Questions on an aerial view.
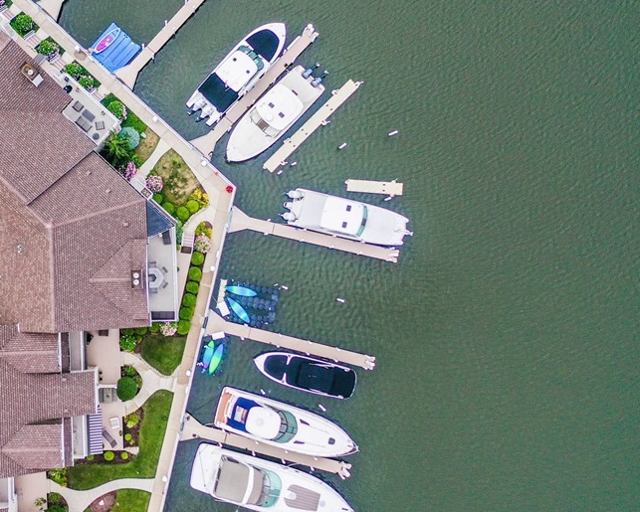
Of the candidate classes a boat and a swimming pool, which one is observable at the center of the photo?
boat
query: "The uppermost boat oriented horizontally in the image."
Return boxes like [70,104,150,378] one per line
[271,188,419,243]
